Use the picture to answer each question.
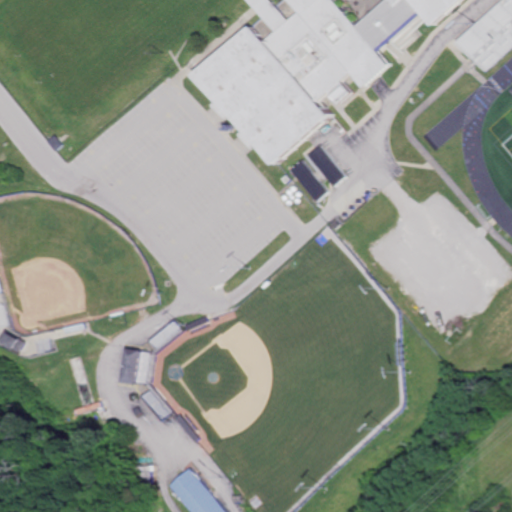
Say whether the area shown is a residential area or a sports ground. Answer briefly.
sports ground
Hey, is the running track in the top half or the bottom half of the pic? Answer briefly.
top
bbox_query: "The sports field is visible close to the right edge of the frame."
[482,83,512,209]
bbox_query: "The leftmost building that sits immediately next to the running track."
[187,0,474,166]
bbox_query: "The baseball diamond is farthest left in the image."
[0,192,158,336]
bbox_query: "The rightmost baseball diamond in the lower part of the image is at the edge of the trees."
[153,224,402,512]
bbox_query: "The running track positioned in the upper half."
[422,57,512,233]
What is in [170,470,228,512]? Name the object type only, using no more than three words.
building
